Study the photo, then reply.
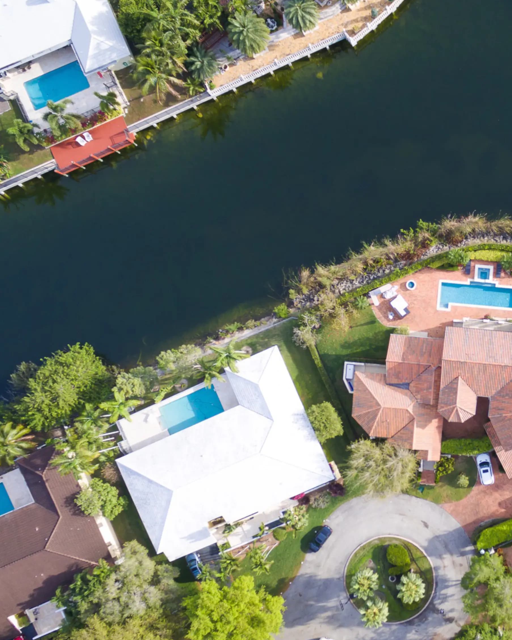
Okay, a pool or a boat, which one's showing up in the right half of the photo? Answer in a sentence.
There is a pool in the right half of the photo.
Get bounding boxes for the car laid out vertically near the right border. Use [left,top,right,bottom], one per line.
[477,453,493,486]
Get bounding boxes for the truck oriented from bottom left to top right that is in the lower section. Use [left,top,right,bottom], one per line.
[308,522,334,556]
